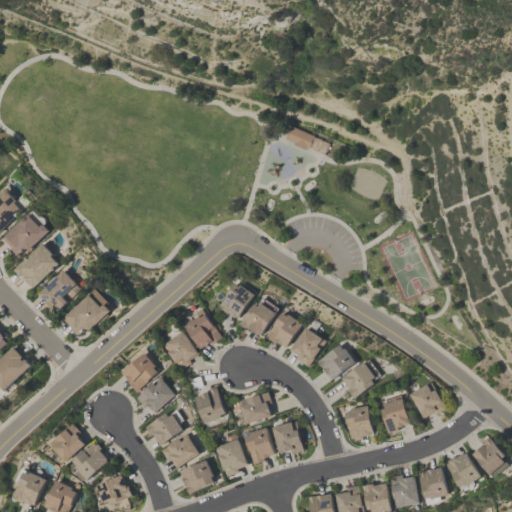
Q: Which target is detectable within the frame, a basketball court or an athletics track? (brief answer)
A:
basketball court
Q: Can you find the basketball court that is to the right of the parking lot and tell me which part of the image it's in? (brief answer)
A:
right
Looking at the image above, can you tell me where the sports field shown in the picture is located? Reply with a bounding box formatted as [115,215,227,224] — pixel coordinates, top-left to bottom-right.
[354,167,388,197]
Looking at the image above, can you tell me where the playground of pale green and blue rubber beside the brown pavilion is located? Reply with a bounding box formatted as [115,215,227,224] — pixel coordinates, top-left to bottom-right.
[256,136,321,192]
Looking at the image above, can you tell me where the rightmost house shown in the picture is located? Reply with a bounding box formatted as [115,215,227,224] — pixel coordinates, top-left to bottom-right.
[471,440,508,477]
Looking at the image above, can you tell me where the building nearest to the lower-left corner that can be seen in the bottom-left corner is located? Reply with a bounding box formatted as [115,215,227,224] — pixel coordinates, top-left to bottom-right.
[13,474,46,506]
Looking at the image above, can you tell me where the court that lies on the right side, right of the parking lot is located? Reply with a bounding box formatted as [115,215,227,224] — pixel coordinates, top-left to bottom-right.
[381,232,437,302]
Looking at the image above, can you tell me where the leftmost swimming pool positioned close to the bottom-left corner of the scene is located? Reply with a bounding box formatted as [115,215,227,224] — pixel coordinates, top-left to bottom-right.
[38,458,56,476]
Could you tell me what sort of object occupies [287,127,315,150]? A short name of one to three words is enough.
building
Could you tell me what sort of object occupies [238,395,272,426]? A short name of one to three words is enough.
house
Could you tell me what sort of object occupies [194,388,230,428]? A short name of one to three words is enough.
house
